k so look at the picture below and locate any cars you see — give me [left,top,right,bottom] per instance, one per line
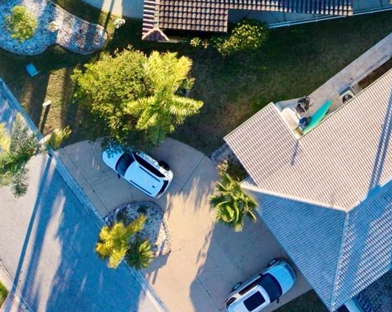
[223,259,297,312]
[101,142,176,203]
